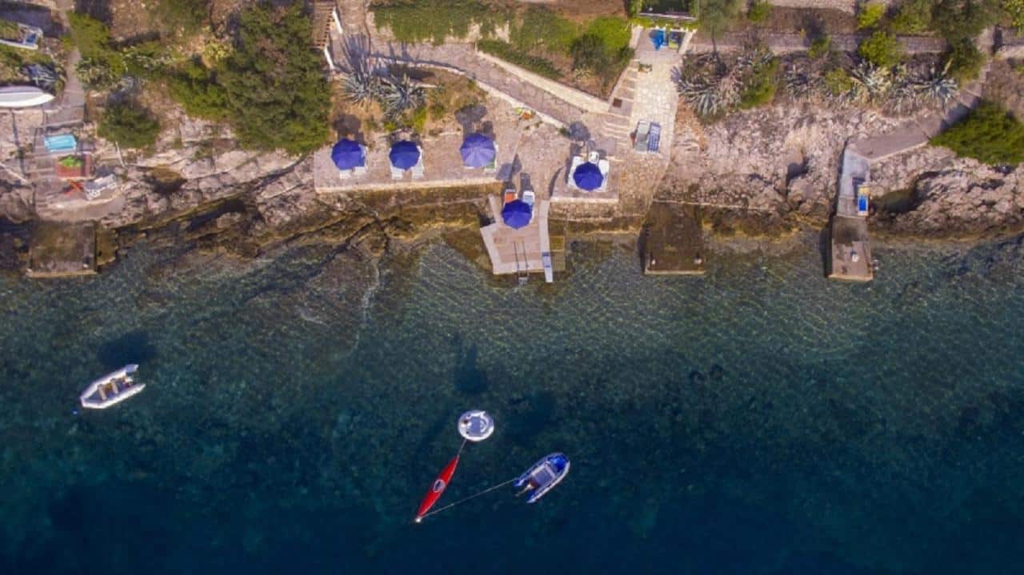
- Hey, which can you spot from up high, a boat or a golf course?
boat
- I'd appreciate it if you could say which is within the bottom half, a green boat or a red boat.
red boat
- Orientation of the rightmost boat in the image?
on a diagonal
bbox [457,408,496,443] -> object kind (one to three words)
boat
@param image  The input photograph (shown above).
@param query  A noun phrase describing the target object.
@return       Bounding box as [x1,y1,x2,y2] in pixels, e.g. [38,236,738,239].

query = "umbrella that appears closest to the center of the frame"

[502,198,534,230]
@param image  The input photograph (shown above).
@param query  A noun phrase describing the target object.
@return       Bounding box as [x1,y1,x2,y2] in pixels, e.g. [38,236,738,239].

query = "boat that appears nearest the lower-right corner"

[514,450,572,503]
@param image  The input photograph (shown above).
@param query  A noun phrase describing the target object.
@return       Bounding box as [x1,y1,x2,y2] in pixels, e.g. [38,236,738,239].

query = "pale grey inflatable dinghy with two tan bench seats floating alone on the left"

[78,365,145,411]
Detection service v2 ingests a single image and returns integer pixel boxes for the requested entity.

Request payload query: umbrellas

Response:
[502,198,534,230]
[571,162,603,193]
[646,31,669,59]
[390,141,421,171]
[460,134,496,169]
[333,138,368,172]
